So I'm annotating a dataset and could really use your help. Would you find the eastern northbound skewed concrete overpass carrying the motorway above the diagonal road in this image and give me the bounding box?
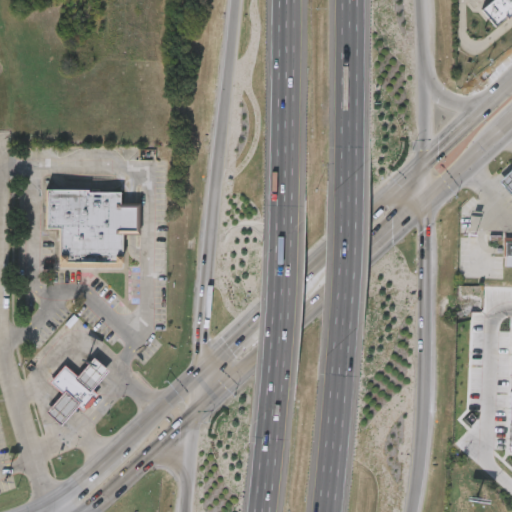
[316,113,371,406]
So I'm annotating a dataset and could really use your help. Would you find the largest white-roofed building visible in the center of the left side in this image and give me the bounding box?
[46,190,140,268]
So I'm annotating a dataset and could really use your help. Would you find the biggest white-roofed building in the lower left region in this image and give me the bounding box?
[50,366,98,411]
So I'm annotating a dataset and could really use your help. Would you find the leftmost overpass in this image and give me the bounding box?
[246,172,306,476]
